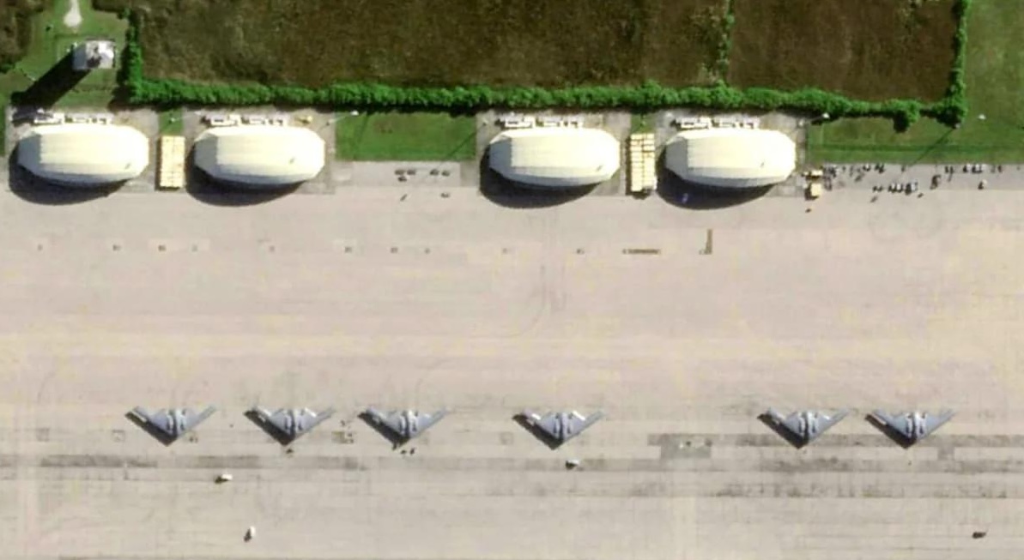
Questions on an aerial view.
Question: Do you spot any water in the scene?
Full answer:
No, there is no water in the image.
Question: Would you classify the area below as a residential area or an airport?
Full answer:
The picture captures an airport.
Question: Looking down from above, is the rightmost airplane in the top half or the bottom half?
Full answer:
It is in the bottom half that the rightmost airplane appears.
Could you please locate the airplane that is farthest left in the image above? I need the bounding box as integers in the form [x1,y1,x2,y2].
[133,403,219,438]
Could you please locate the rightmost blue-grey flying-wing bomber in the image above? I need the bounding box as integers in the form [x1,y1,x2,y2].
[875,406,956,440]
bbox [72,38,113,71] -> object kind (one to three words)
building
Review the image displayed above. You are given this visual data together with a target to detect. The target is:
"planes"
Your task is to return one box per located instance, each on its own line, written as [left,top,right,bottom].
[767,407,849,441]
[133,403,219,438]
[365,403,449,438]
[250,402,335,438]
[875,406,956,440]
[521,407,605,442]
